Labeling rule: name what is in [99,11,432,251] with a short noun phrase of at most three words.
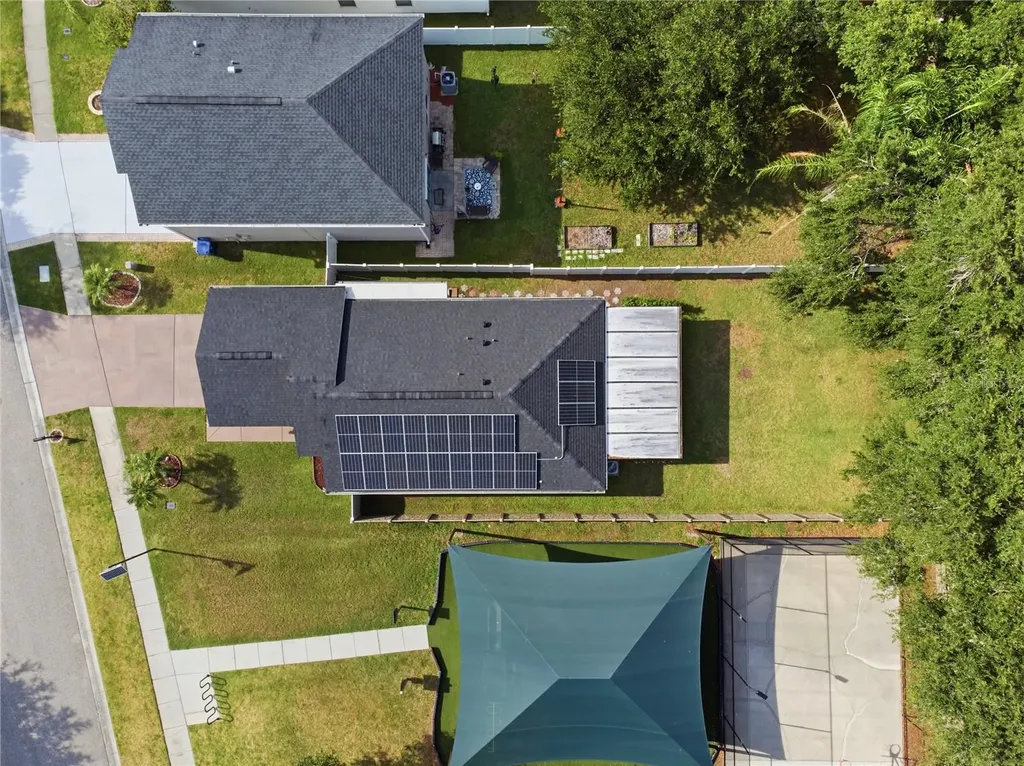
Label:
house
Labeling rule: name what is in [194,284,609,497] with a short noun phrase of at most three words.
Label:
house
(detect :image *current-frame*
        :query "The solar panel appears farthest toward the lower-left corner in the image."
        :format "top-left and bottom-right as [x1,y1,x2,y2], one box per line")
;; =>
[97,563,127,583]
